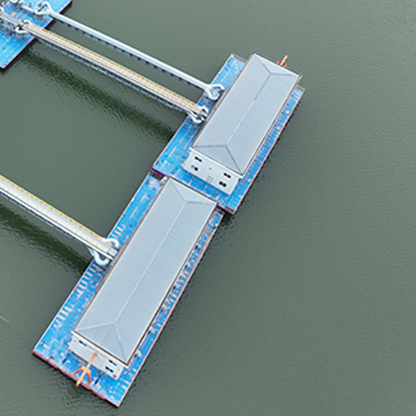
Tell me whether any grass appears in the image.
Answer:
No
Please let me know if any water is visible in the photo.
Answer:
Yes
